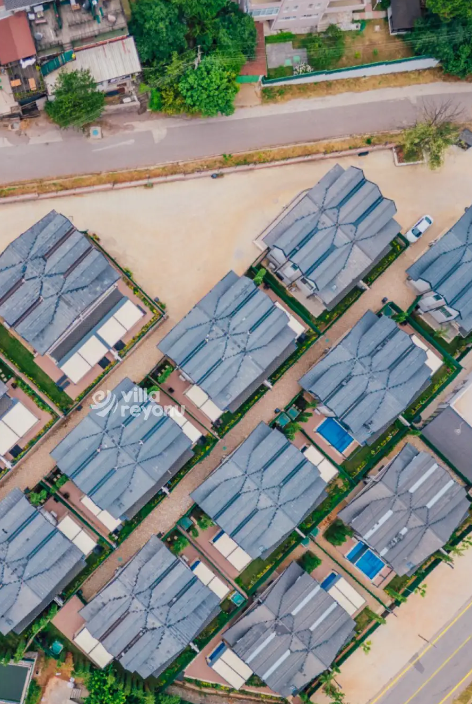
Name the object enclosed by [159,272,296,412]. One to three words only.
house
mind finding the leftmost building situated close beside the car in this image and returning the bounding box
[264,165,403,307]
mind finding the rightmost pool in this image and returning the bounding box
[345,540,387,582]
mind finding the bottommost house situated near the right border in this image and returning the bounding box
[339,444,470,579]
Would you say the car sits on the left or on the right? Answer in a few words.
right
